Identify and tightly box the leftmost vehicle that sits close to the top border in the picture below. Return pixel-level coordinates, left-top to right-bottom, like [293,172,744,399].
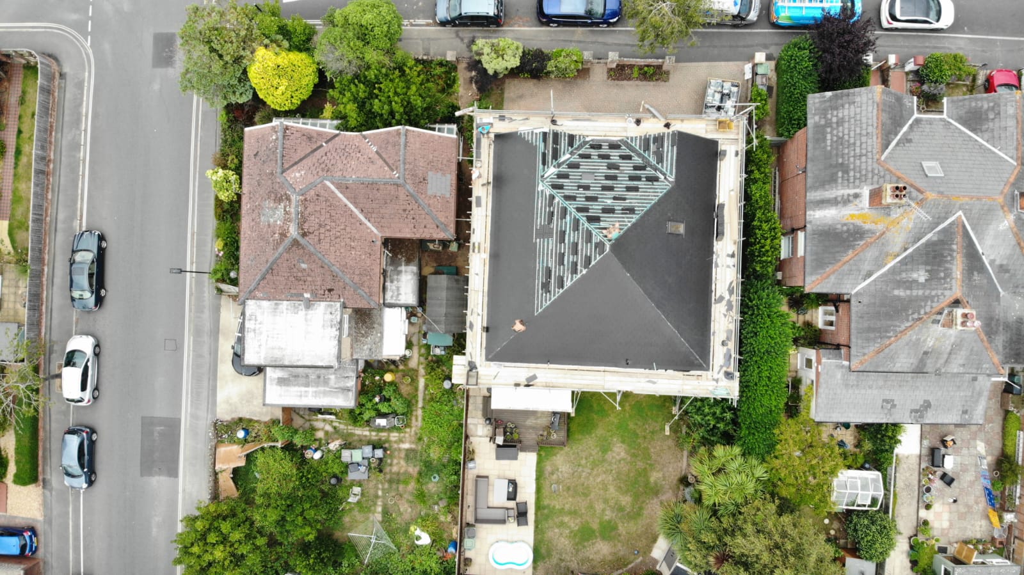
[436,0,506,29]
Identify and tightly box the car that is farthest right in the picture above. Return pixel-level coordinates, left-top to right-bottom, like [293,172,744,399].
[984,71,1024,94]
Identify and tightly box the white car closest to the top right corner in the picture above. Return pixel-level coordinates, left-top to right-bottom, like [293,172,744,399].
[878,0,952,31]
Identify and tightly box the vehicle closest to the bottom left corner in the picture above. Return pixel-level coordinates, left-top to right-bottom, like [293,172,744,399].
[0,525,40,559]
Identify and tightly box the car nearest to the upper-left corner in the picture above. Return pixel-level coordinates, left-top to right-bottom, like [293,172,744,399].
[66,230,110,312]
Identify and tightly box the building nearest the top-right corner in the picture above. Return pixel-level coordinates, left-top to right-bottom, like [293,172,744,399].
[778,86,1024,425]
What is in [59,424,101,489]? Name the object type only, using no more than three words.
car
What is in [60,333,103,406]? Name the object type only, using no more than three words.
car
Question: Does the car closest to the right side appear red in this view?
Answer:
Yes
